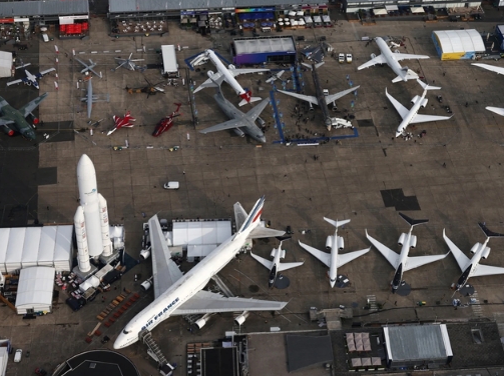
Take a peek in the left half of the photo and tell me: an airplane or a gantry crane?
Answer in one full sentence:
Visible in the left half of the photo is an airplane.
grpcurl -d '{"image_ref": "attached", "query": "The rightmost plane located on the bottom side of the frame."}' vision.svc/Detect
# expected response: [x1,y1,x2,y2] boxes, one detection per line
[442,222,504,291]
